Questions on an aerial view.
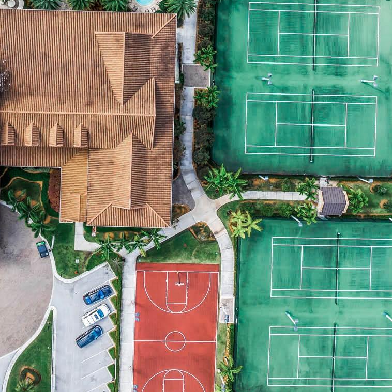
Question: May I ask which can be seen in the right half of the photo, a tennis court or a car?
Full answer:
Visible in the right half of the photo is a tennis court.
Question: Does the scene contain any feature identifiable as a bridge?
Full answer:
No, there appears to be no bridge in this shot.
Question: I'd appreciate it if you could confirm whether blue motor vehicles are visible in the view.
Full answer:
Yes, there's a blue motor vehicle down there.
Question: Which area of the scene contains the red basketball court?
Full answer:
You can find the red basketball court in the bottom area of the picture.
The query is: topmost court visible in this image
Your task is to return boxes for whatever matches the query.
[215,0,392,81]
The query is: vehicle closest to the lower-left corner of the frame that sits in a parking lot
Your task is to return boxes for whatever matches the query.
[74,326,103,350]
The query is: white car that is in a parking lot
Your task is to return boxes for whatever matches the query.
[81,305,111,327]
